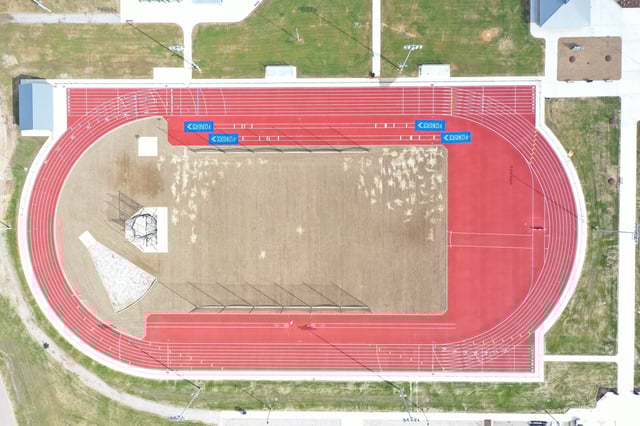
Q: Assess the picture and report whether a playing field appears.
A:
Yes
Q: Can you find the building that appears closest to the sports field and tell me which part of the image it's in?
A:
top left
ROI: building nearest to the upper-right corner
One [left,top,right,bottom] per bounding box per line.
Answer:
[538,0,591,29]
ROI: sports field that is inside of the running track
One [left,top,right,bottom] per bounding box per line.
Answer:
[55,117,448,339]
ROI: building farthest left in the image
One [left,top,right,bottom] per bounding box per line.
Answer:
[18,82,57,130]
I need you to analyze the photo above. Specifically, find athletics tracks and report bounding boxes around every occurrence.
[27,85,577,372]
